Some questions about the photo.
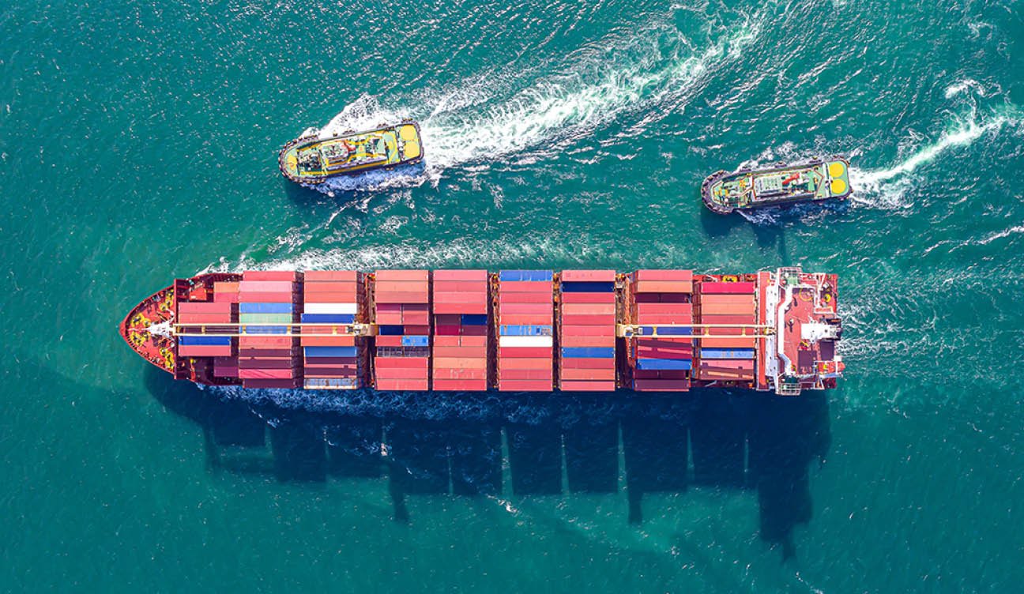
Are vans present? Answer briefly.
No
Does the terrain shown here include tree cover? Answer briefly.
No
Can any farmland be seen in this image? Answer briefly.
No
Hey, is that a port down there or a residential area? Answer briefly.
port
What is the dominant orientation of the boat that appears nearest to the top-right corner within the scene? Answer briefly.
horizontally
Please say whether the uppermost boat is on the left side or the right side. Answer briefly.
left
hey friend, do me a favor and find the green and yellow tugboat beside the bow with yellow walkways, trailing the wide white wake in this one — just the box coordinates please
[276,122,426,184]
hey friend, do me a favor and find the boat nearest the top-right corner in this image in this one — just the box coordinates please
[701,157,849,214]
